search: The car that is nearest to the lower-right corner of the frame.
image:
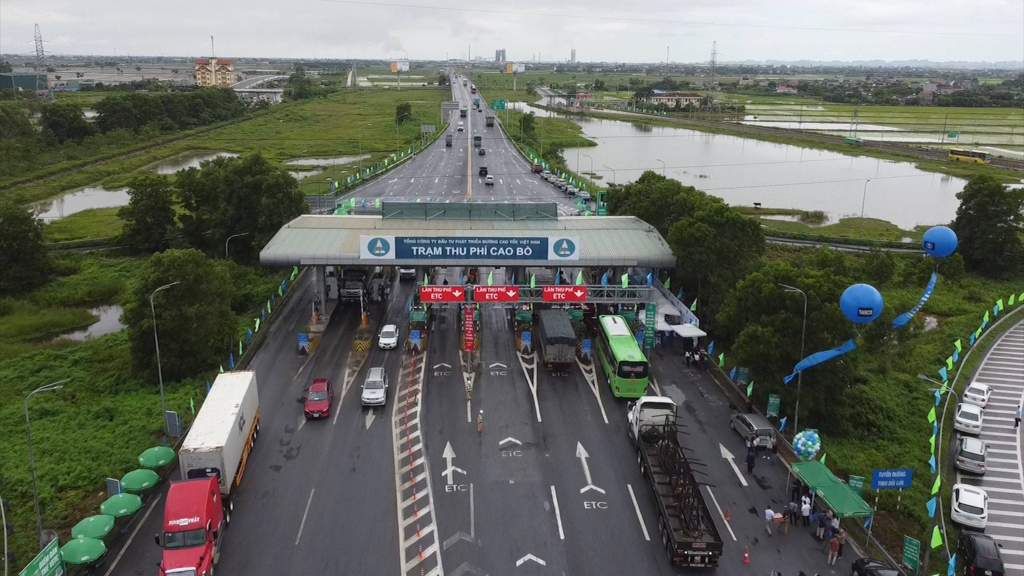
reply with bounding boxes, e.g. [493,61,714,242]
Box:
[965,530,1018,576]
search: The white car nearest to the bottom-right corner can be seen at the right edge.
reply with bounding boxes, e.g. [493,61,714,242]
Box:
[950,480,992,527]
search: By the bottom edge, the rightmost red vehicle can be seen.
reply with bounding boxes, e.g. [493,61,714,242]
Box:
[145,412,257,576]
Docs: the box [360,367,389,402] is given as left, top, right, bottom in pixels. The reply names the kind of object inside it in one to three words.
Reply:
car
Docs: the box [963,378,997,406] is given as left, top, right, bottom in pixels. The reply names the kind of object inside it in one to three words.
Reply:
car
